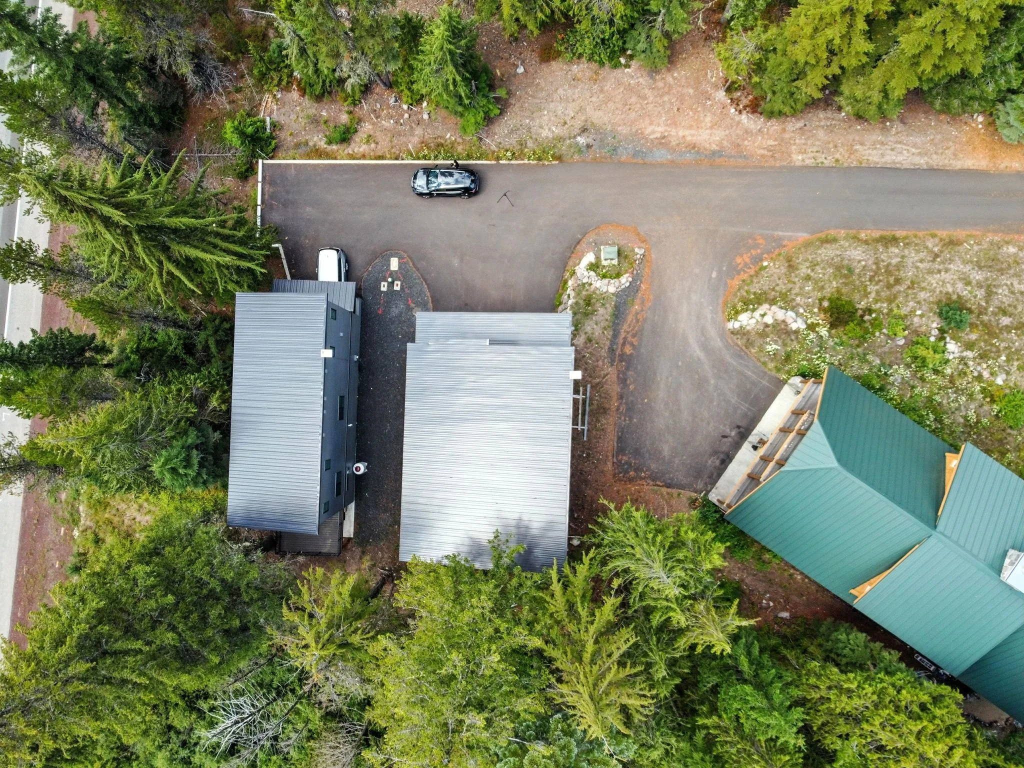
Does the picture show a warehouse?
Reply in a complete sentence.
No, the picture doesn't show any warehouse.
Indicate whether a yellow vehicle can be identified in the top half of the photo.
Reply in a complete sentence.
No, no yellow vehicle is visible in the top half of the photo.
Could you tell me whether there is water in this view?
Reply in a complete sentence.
No, there's no water in this view.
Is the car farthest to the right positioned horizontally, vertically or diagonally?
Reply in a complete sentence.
The car farthest to the right is laid out horizontally.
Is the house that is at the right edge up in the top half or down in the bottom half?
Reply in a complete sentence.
You can find the house that is at the right edge in the bottom half.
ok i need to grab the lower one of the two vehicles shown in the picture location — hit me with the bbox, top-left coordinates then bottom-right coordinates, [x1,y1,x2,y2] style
[318,248,349,282]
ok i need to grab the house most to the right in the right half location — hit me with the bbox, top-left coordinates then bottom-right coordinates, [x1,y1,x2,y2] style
[712,364,1024,719]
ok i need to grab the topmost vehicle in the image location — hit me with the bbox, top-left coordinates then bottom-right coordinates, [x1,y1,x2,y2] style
[411,165,479,199]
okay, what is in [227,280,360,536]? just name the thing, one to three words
house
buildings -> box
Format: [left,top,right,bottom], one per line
[712,364,1024,719]
[399,311,582,571]
[227,280,360,536]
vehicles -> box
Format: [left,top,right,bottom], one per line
[411,165,479,199]
[318,248,349,282]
